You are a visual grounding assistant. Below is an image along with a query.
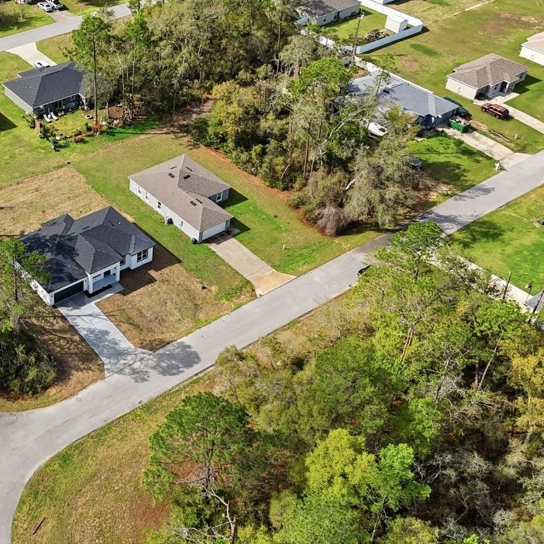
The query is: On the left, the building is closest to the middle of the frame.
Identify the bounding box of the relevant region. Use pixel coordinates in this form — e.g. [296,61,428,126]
[124,154,234,244]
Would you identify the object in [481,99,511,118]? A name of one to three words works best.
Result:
car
